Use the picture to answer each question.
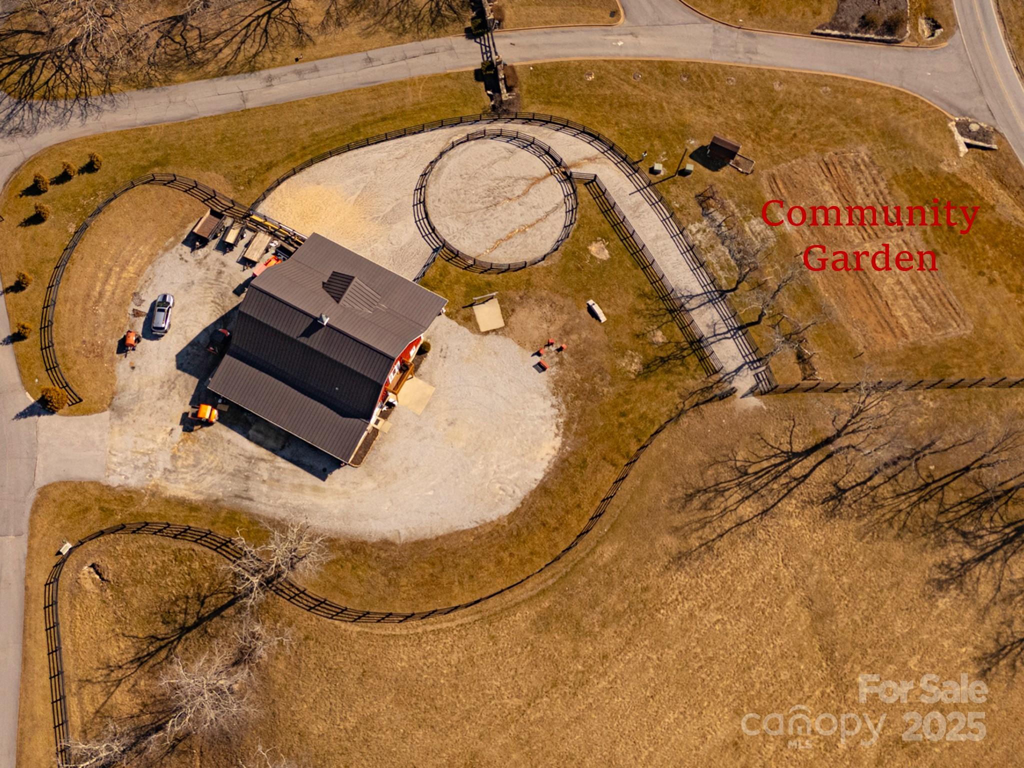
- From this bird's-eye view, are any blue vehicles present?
No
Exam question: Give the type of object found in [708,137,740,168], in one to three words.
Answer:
shed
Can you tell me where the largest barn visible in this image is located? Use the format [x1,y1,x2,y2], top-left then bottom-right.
[209,233,448,464]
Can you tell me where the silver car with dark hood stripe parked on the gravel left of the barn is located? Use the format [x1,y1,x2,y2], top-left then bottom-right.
[148,295,175,335]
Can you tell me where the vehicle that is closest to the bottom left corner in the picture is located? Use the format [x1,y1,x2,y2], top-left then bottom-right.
[183,405,222,427]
